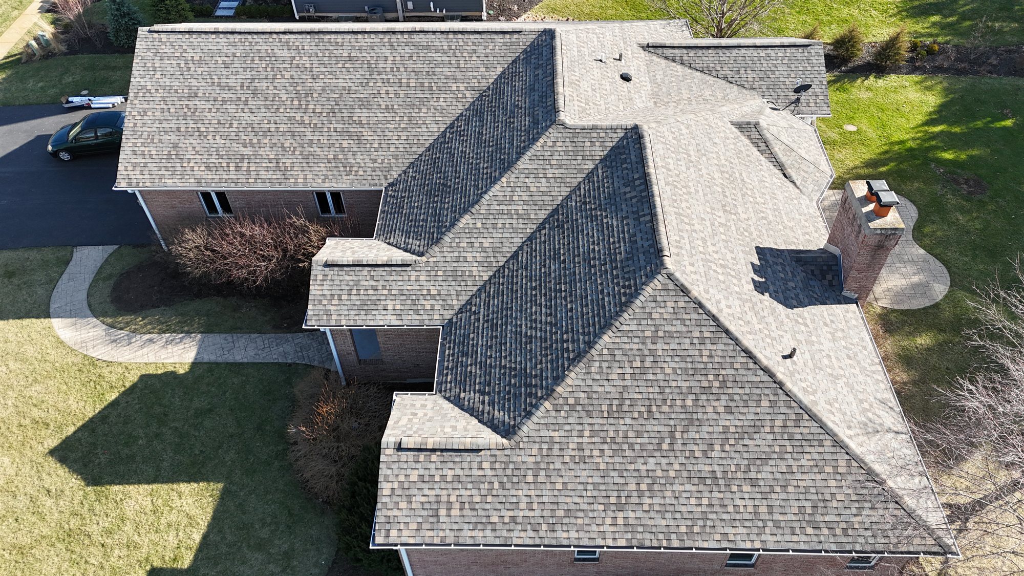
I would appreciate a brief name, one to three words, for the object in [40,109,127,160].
car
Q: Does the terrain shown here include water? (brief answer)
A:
No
